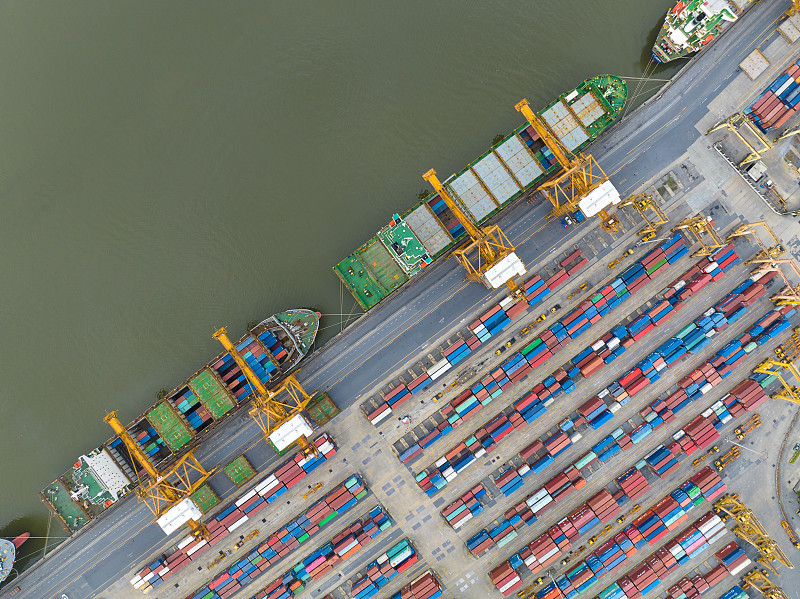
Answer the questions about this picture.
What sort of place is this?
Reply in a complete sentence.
It's a port.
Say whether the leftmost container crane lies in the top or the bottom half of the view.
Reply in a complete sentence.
The bottom half of the photo is where the leftmost container crane is.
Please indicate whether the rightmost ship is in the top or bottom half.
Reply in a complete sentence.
It is in the top half that the rightmost ship appears.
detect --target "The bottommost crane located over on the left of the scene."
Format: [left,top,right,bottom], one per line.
[97,406,220,547]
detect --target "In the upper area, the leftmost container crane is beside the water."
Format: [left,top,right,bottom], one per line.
[419,165,530,308]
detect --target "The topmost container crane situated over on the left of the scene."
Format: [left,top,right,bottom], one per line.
[207,323,324,464]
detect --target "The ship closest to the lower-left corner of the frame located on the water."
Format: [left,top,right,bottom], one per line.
[0,537,32,581]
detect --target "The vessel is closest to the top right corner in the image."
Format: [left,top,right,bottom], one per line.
[650,0,755,64]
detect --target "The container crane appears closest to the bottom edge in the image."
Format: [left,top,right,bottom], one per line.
[739,567,789,599]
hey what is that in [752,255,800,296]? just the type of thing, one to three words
container crane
